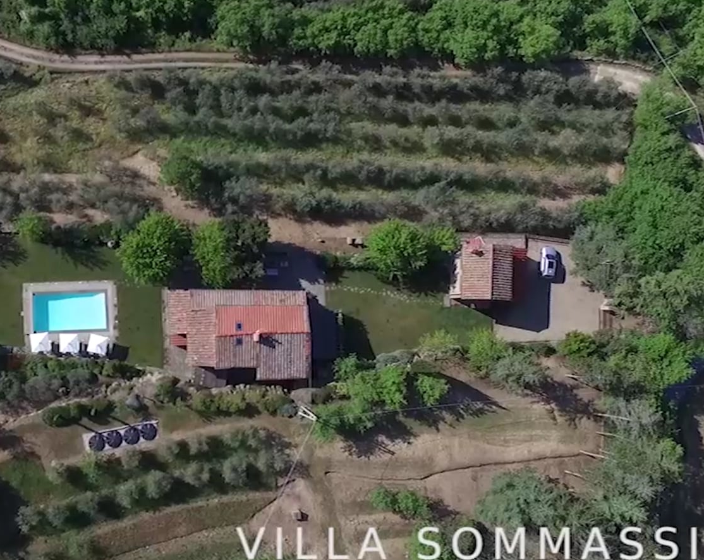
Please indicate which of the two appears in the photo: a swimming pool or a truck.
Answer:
swimming pool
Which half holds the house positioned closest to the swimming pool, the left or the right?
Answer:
left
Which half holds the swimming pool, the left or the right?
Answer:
left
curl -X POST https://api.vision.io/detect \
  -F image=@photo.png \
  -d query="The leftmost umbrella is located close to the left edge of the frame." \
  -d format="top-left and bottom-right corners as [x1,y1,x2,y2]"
[31,332,51,354]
